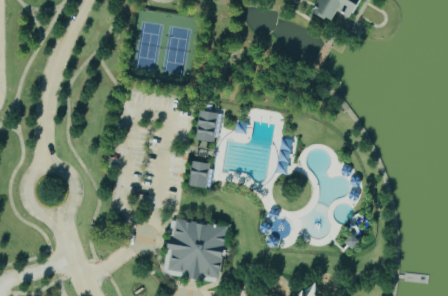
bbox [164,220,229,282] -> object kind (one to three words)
building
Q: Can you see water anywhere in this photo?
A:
Yes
